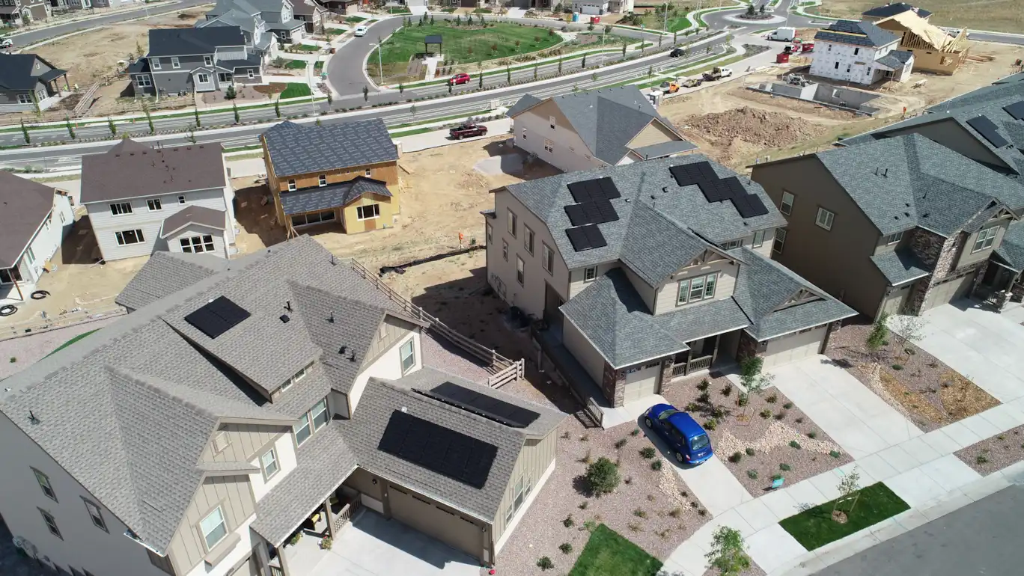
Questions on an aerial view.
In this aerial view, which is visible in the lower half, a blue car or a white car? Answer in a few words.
blue car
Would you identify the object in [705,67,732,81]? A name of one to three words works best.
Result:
vehicle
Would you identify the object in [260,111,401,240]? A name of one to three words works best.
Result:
house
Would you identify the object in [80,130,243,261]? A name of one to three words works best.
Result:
house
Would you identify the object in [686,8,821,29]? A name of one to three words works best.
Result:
roundabout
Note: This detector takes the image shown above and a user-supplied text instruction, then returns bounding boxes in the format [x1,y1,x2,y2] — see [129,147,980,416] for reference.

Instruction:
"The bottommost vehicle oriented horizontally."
[449,123,486,140]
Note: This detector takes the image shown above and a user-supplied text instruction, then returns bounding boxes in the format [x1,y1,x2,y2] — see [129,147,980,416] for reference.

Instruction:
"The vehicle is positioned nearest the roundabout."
[770,26,799,42]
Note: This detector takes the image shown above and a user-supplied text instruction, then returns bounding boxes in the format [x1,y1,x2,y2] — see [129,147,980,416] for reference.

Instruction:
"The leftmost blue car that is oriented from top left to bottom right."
[643,401,716,467]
